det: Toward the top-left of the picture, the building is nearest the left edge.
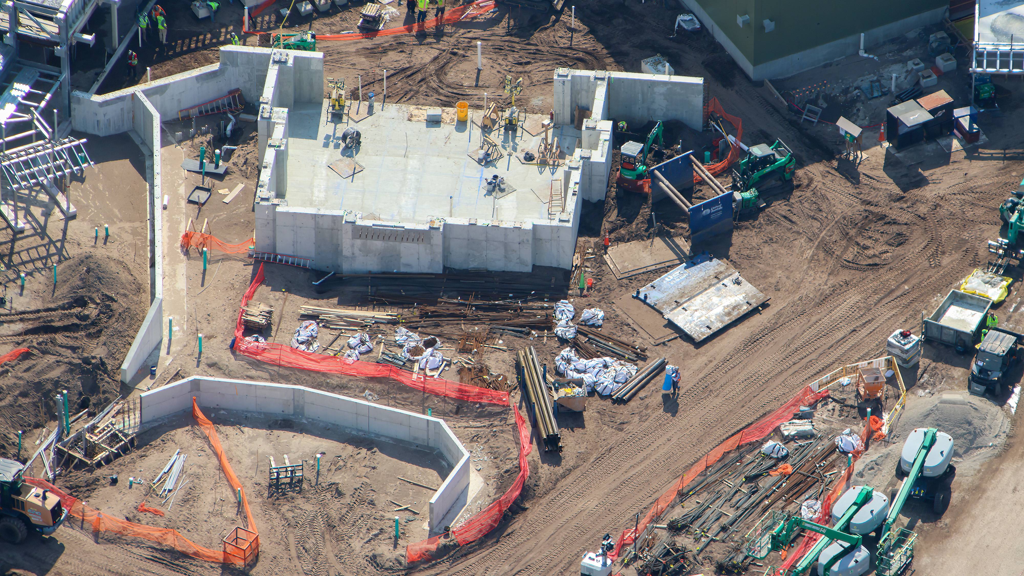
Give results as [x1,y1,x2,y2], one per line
[0,0,124,122]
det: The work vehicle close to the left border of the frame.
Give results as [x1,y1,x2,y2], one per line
[0,447,74,543]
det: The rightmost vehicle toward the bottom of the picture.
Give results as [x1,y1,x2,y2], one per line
[968,331,1024,400]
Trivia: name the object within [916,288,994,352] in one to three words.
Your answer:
trailer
